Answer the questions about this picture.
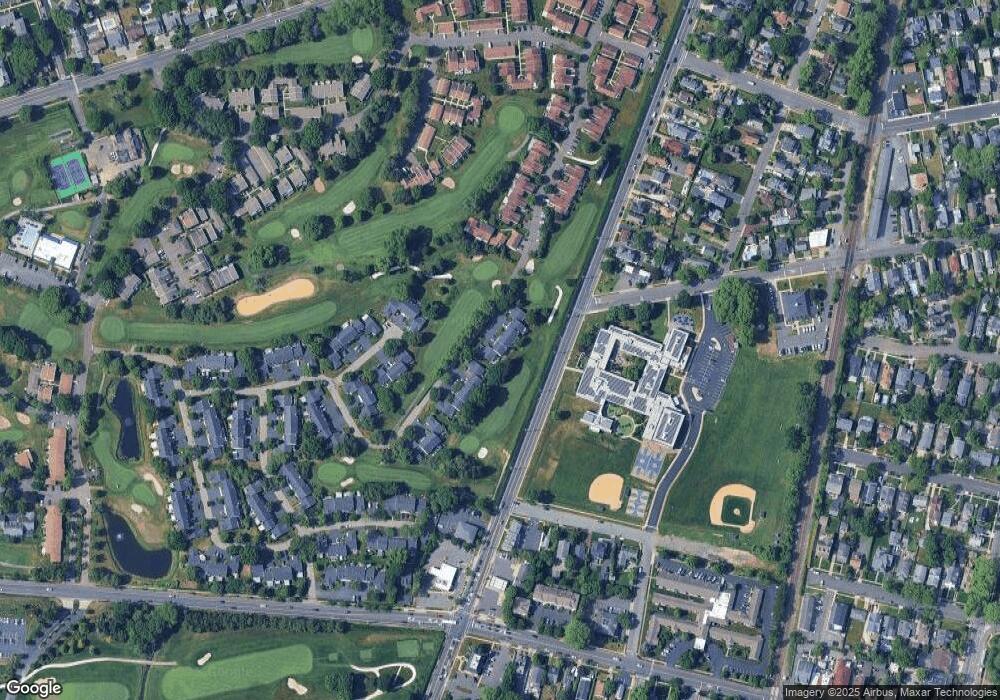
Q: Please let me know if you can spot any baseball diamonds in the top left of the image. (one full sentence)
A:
No, in the top left of the image there is no baseball diamond.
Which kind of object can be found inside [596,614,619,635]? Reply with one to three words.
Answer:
house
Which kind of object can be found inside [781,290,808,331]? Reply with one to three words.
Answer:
building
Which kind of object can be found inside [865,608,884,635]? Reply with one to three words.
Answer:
house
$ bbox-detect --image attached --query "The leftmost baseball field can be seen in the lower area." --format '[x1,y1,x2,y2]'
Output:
[589,474,630,515]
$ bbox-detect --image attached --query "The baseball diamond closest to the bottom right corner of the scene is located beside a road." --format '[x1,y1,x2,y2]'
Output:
[710,484,767,539]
